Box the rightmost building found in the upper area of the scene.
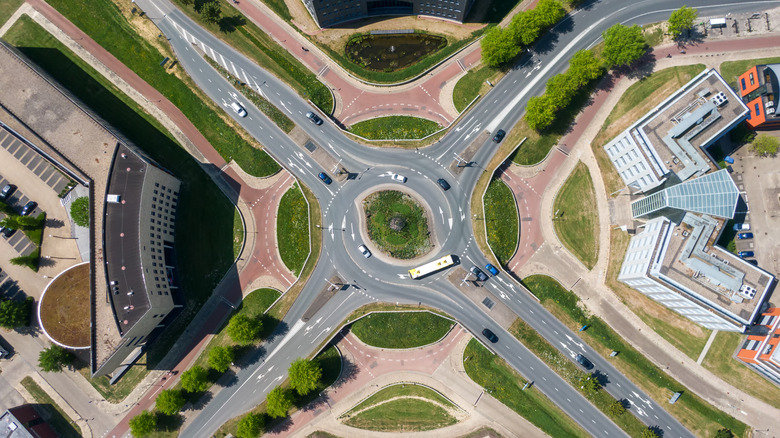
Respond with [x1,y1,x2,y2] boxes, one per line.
[739,60,780,129]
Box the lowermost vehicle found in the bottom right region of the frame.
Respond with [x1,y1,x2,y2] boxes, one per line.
[575,353,595,370]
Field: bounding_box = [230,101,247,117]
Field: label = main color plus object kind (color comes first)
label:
white car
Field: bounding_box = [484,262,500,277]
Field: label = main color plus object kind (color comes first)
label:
blue car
